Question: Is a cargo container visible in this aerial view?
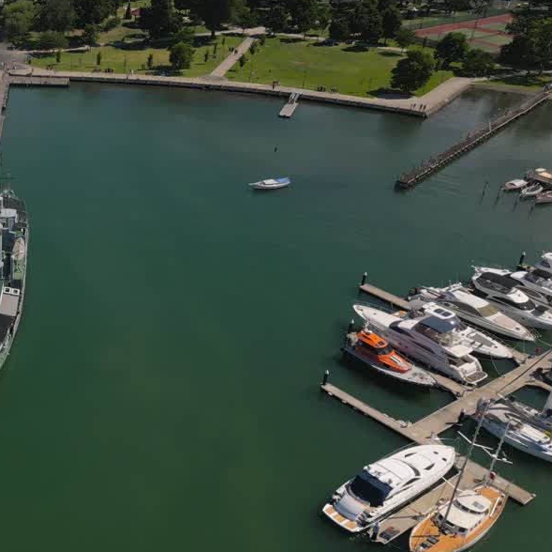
No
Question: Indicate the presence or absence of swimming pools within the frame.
No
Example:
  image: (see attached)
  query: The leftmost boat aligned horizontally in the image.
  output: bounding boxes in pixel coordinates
[250,177,292,191]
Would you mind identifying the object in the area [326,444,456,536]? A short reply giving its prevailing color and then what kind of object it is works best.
white boat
